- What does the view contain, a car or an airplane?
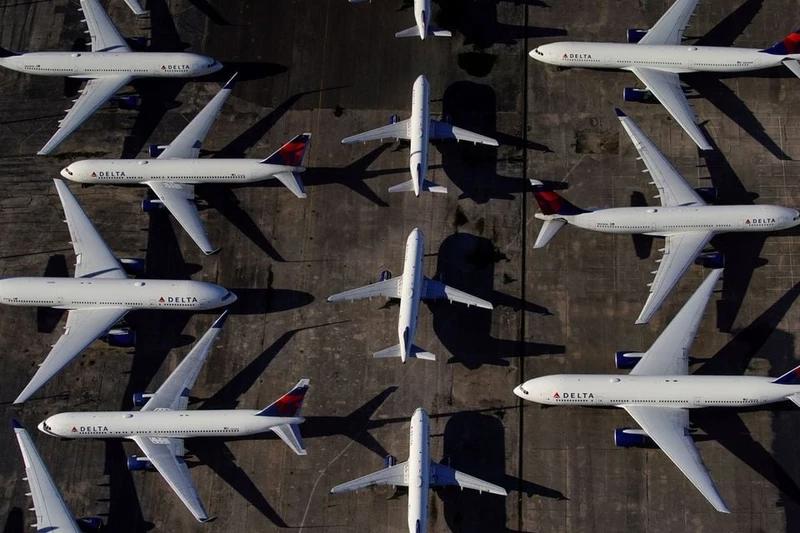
airplane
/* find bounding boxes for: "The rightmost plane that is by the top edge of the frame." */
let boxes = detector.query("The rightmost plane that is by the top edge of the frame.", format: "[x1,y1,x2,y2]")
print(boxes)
[527,0,800,148]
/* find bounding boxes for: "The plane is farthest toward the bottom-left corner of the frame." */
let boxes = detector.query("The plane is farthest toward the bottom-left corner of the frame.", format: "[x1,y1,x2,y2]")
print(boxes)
[10,417,104,533]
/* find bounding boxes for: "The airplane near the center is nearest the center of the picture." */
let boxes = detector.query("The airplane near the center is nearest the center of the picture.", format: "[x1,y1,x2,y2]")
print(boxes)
[327,229,491,363]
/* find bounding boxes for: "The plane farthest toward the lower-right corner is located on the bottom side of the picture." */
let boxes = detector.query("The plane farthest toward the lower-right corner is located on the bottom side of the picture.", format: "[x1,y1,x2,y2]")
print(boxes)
[513,268,800,515]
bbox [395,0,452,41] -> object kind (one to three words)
airplane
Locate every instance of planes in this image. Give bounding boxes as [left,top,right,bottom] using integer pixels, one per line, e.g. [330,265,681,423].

[38,310,310,521]
[395,0,452,41]
[527,0,800,148]
[327,229,491,363]
[10,417,104,533]
[529,107,800,323]
[341,76,498,196]
[513,268,800,515]
[59,73,312,254]
[0,0,223,155]
[126,0,152,13]
[331,409,506,533]
[0,178,237,402]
